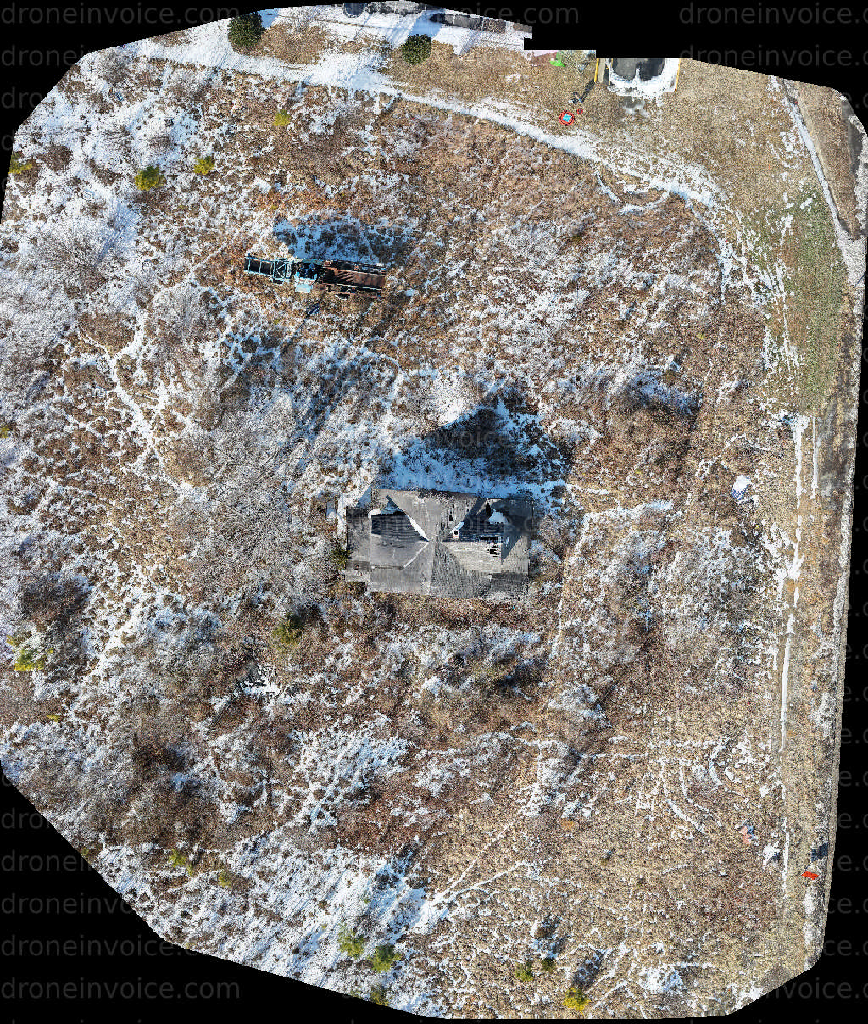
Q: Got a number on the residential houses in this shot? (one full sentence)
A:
I count 1 residential house.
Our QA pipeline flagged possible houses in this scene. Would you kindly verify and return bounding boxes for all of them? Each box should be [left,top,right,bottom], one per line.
[344,488,533,601]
